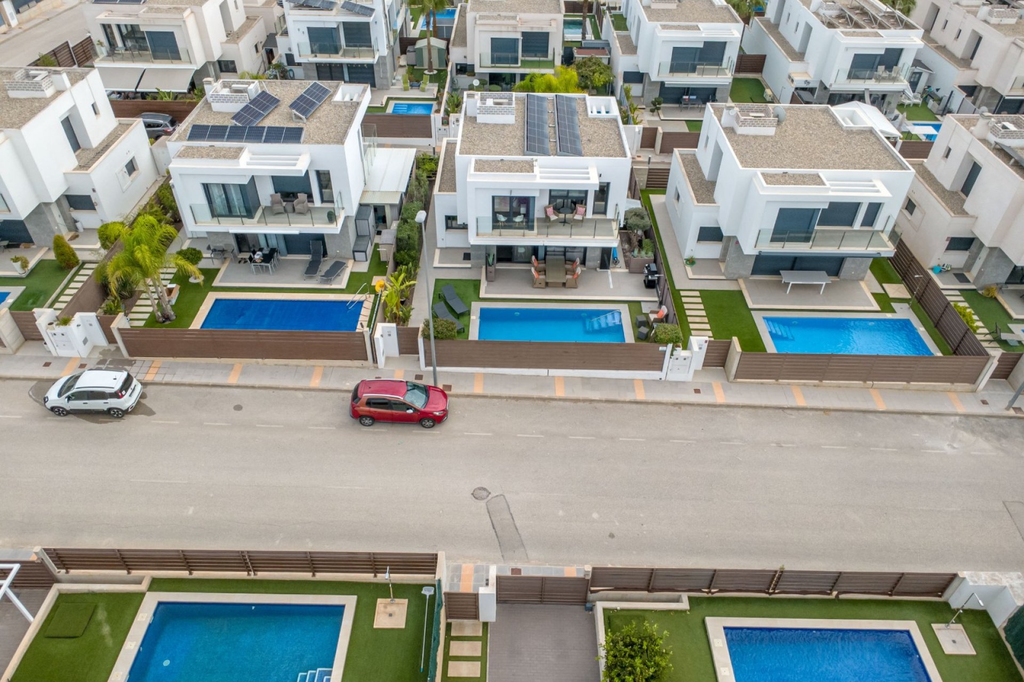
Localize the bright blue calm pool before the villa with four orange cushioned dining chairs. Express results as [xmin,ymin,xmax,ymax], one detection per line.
[469,302,636,343]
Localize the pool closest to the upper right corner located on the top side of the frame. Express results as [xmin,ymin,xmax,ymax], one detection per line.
[900,121,945,137]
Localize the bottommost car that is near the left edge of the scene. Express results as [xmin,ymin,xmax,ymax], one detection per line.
[41,367,143,418]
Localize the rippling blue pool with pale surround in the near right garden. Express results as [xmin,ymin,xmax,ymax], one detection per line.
[707,617,942,682]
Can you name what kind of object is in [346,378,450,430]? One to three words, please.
car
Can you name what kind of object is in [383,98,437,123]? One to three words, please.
swimming pool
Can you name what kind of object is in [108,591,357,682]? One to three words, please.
swimming pool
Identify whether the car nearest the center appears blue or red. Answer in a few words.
red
